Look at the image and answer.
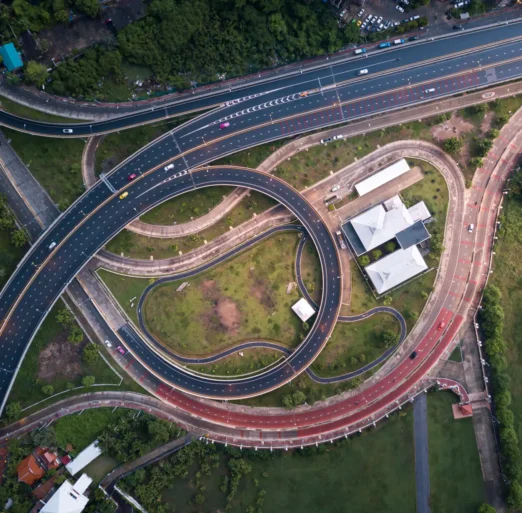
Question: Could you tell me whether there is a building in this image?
Yes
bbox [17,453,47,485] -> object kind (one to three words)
house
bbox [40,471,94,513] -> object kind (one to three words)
building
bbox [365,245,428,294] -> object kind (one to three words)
building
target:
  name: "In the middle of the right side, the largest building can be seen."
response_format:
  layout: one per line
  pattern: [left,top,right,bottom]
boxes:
[341,194,431,255]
